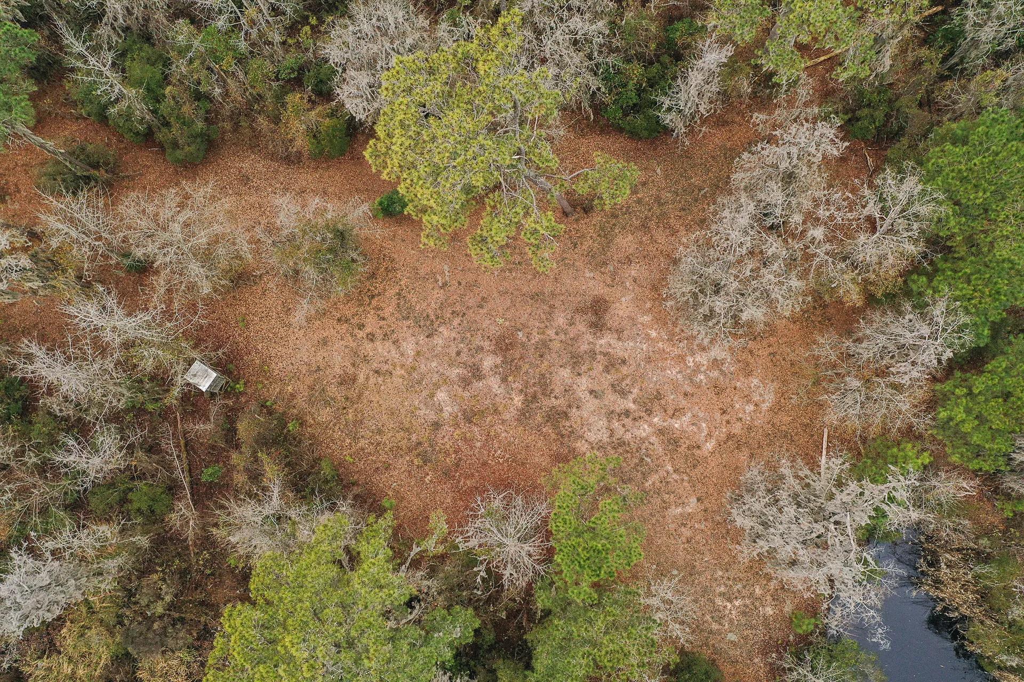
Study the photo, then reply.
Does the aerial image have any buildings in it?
No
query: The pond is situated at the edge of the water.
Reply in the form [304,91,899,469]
[816,523,995,682]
